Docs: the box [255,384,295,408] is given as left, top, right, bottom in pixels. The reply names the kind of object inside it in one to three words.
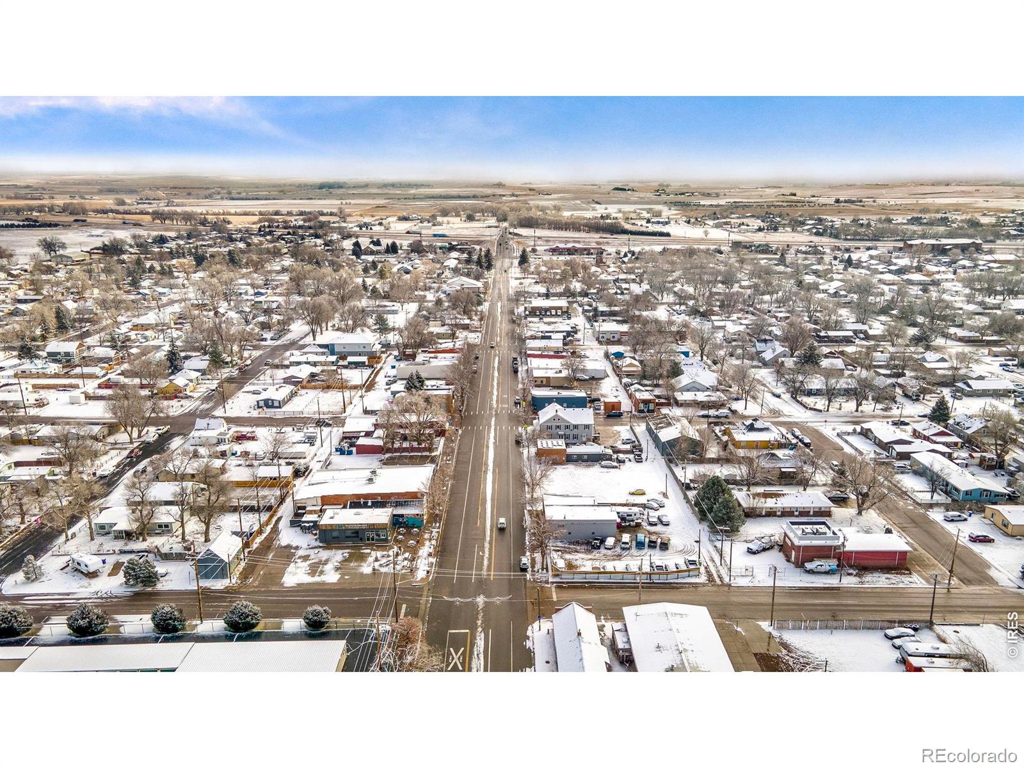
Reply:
house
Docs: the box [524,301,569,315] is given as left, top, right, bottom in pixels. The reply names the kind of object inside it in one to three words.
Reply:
building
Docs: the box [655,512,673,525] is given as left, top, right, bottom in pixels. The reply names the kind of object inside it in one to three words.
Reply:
vehicle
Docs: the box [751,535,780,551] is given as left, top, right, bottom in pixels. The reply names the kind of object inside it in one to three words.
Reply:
vehicle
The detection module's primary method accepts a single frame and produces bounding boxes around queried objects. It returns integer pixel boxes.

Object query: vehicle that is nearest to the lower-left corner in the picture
[66,548,106,575]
